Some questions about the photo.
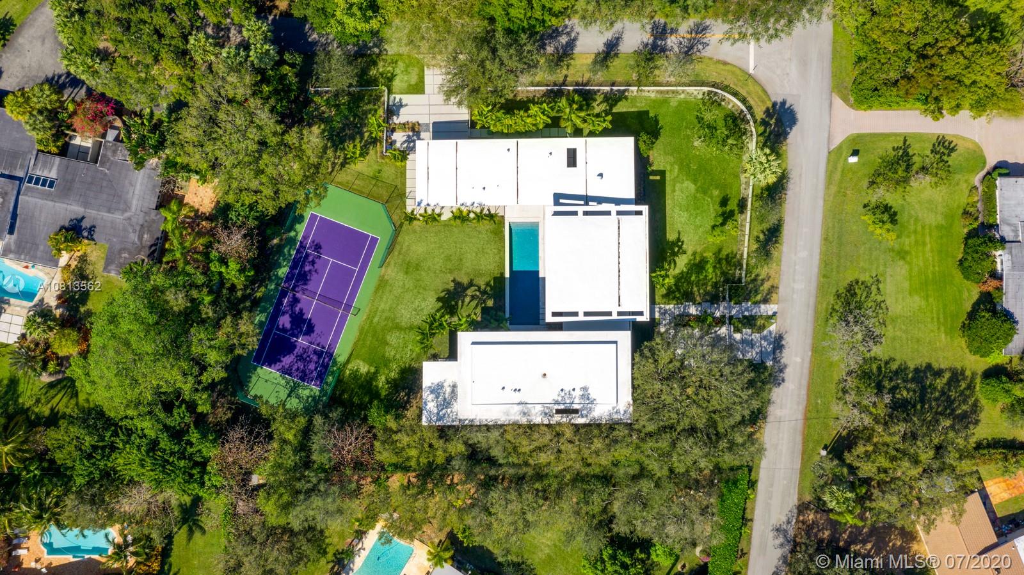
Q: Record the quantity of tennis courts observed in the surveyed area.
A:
one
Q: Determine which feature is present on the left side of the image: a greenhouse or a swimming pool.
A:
swimming pool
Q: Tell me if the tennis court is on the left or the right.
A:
left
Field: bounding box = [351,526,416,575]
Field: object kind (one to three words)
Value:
swimming pool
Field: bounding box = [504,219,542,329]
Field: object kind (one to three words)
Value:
swimming pool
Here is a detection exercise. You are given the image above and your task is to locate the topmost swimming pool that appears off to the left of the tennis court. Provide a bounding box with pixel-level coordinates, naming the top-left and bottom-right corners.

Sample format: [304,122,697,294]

[0,256,50,306]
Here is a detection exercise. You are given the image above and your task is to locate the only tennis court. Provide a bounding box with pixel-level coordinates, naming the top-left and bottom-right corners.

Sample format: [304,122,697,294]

[237,184,394,415]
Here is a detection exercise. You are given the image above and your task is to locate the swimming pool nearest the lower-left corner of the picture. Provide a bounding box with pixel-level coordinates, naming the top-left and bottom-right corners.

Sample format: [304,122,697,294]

[39,519,117,561]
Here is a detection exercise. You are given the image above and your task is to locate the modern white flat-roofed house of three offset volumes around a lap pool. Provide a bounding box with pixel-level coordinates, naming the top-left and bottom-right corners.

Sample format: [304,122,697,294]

[416,139,649,425]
